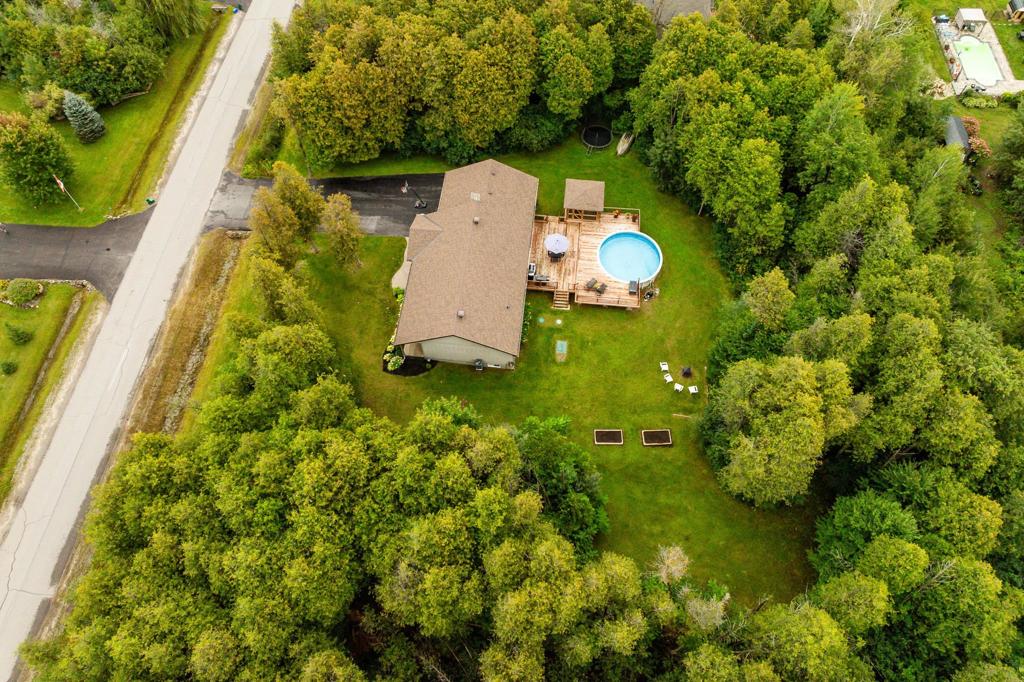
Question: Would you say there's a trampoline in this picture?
Yes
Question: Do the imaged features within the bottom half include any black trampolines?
No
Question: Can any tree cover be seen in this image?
Yes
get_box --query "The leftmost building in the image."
[392,160,540,368]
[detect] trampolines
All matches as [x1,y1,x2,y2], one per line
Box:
[582,119,614,151]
